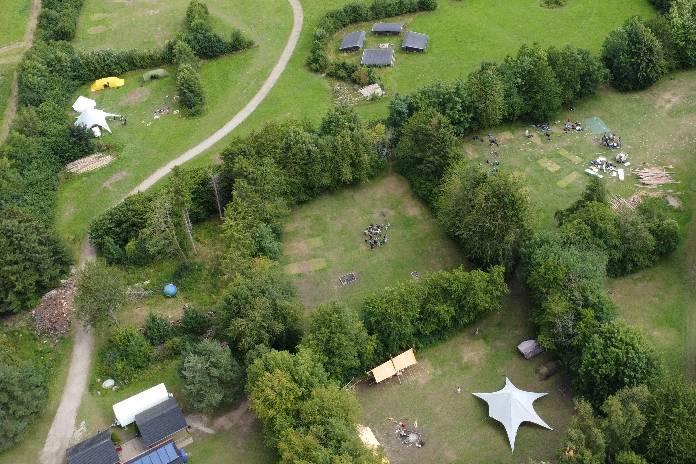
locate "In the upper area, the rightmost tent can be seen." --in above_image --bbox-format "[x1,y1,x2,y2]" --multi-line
[139,67,172,88]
